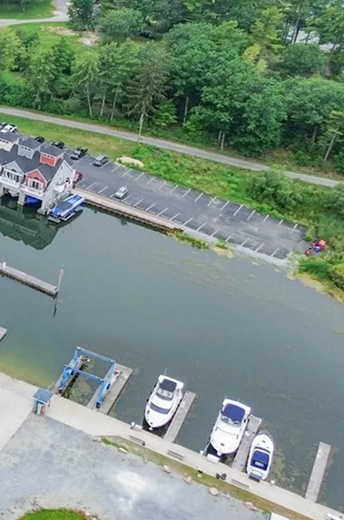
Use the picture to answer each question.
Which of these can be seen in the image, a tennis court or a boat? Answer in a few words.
boat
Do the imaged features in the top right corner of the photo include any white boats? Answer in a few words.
No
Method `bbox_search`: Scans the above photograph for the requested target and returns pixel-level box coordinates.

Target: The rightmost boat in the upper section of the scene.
[47,193,85,222]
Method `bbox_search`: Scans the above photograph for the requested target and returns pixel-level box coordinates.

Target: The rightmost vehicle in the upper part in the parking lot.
[114,183,131,199]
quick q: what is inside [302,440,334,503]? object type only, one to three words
pier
